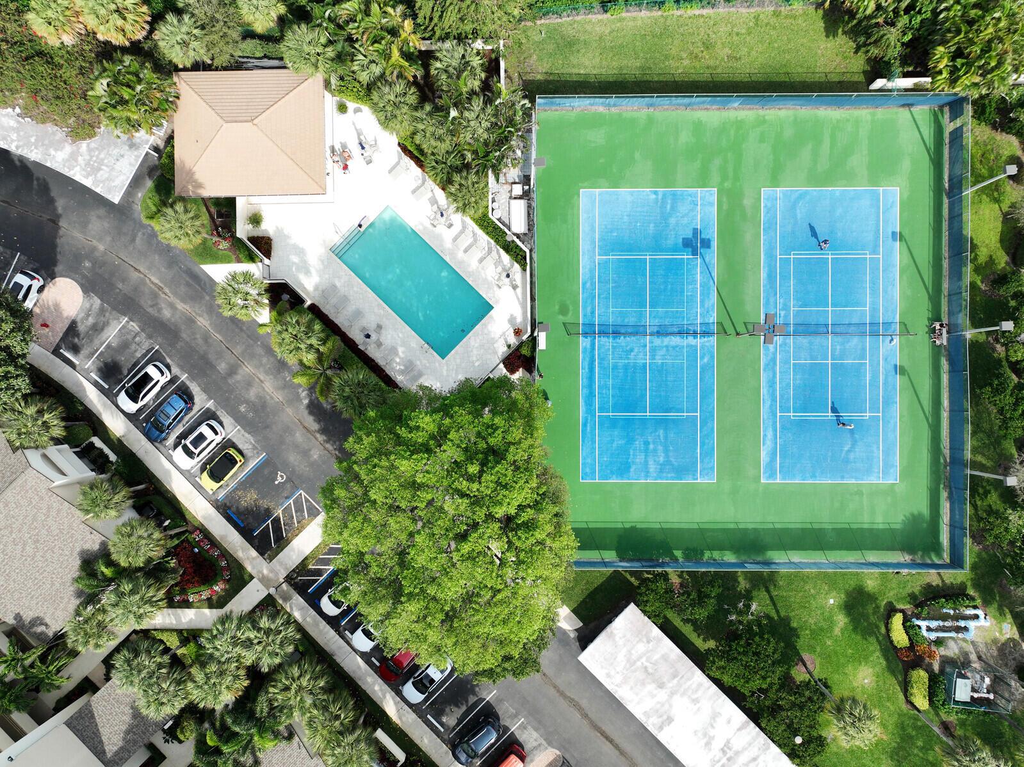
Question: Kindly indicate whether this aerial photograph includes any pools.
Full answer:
Yes, the photo shows a pool.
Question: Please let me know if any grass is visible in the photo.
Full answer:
Yes, grass can be seen from above here.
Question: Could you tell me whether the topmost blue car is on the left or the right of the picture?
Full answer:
The topmost blue car appears in the left half of the scene.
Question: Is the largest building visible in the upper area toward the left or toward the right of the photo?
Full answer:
You can find the largest building visible in the upper area on the left side of the picture.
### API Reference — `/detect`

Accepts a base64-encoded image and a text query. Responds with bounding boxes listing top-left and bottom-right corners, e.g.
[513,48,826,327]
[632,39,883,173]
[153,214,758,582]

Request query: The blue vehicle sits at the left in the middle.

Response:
[147,391,194,442]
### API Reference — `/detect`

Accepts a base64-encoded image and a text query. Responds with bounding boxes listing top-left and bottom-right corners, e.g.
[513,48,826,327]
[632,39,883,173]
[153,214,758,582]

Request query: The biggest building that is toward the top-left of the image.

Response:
[173,70,330,201]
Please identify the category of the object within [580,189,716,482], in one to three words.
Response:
tennis court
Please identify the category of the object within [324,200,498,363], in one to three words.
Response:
swimming pool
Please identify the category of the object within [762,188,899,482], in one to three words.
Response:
tennis court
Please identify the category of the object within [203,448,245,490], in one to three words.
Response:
car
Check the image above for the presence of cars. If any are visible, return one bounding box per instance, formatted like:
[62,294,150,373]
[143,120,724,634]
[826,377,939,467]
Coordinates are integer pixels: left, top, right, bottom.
[120,361,173,410]
[147,391,194,442]
[177,420,227,470]
[381,635,431,679]
[454,711,503,762]
[321,568,372,613]
[203,448,245,490]
[491,742,530,767]
[404,653,454,700]
[2,272,45,327]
